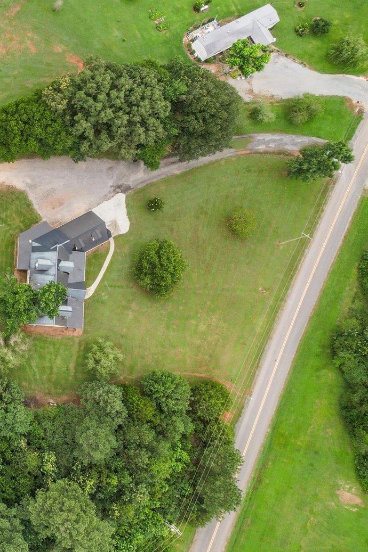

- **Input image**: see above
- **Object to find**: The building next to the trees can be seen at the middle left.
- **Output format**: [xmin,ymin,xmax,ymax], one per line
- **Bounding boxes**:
[16,210,112,328]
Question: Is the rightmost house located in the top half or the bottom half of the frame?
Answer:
top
